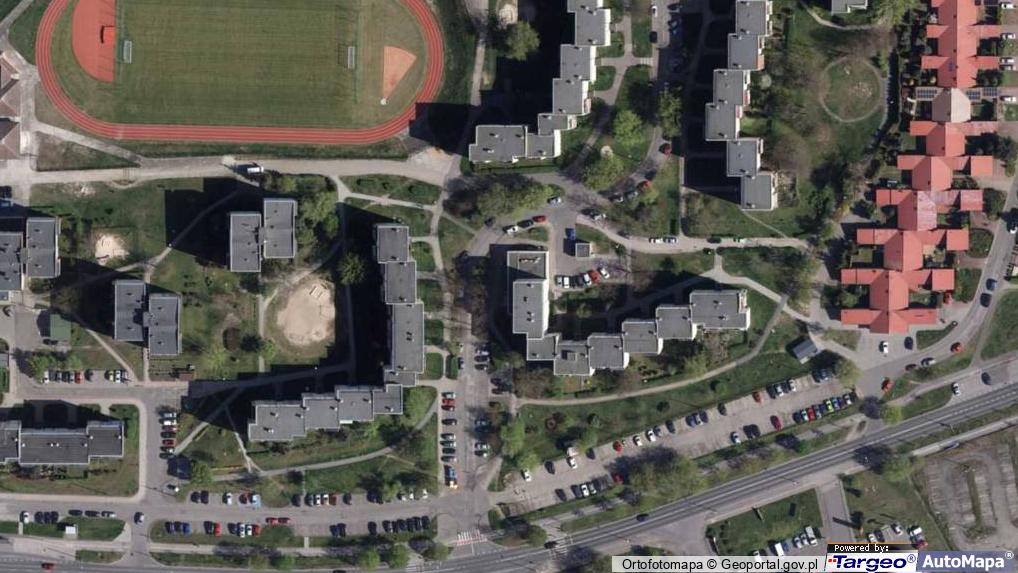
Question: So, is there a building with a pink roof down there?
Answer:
Yes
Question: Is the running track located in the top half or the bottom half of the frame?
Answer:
top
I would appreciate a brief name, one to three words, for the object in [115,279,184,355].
building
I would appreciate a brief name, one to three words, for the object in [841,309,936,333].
house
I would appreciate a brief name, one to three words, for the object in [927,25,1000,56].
house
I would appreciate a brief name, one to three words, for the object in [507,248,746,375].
building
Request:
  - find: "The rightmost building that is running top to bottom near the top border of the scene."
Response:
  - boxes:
[702,0,775,210]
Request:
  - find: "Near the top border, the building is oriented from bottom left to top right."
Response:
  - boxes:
[469,0,609,164]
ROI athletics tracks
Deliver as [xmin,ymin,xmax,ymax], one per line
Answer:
[35,0,444,144]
